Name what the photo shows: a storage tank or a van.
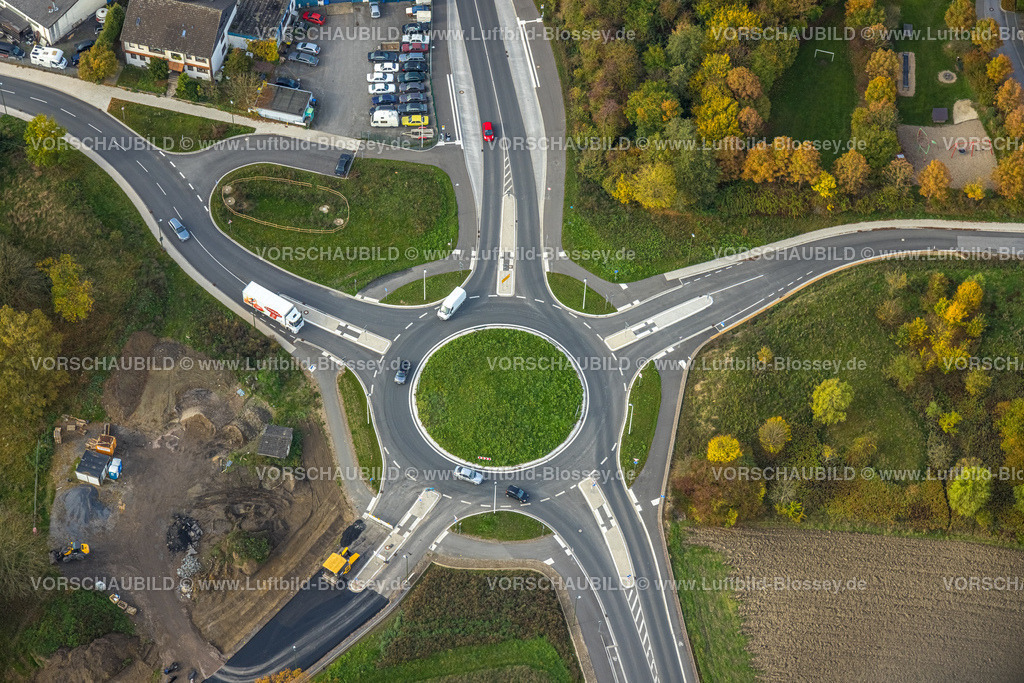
van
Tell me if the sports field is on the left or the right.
right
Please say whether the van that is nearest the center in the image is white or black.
white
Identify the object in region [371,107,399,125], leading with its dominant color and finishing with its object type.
white vehicle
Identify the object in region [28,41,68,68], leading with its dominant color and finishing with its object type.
white camper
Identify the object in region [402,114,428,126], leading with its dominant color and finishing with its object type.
yellow vehicle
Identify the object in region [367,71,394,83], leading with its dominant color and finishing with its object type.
white vehicle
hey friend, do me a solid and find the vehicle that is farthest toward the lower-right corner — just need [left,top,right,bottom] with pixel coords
[504,483,532,504]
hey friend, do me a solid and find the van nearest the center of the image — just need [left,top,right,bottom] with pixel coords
[435,283,467,317]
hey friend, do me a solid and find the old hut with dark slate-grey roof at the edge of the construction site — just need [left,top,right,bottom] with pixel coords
[257,425,293,461]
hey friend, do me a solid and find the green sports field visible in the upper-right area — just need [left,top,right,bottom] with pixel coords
[765,0,879,200]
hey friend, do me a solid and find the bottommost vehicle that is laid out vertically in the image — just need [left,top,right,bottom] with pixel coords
[94,415,114,454]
